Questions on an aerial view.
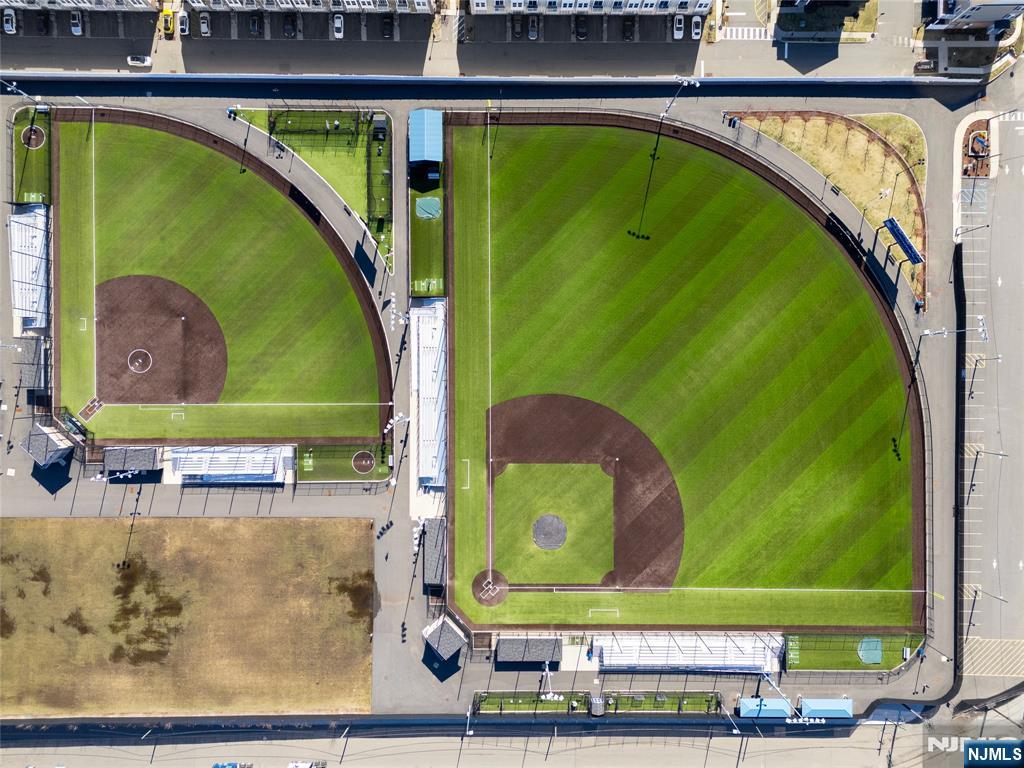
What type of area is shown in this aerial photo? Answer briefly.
sports ground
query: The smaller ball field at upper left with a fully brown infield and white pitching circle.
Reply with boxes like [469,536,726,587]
[52,107,392,446]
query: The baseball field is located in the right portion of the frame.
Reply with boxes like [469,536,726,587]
[447,108,926,631]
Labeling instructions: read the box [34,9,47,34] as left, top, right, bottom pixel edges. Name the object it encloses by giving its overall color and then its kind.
black vehicle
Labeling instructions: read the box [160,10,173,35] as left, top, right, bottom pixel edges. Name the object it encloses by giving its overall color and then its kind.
yellow vehicle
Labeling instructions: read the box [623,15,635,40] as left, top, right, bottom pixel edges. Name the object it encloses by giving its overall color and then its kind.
black vehicle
